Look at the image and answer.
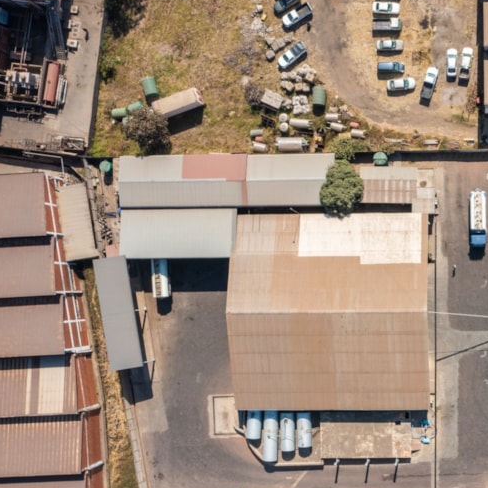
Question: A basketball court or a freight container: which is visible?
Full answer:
Looking from above, you can make out a freight container.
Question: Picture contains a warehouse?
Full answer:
Yes, there's a warehouse here.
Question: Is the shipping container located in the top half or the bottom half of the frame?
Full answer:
It is in the top half that the shipping container appears.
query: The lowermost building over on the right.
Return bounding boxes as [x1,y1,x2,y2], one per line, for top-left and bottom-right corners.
[226,213,428,410]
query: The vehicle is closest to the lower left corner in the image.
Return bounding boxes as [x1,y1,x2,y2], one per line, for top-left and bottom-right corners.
[153,259,174,299]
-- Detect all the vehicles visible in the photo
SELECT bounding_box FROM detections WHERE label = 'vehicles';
[153,259,174,299]
[278,41,308,69]
[283,4,313,29]
[372,2,400,16]
[378,60,404,75]
[445,49,458,77]
[372,19,402,32]
[458,51,471,81]
[377,40,404,54]
[274,0,303,15]
[386,77,416,93]
[421,70,437,102]
[468,190,488,249]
